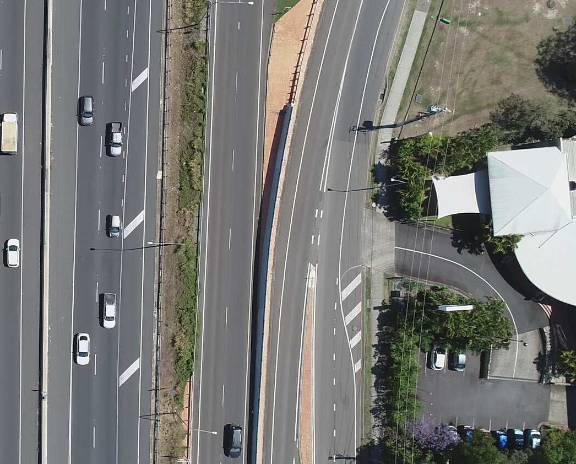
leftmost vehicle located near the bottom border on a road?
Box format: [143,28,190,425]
[229,425,245,458]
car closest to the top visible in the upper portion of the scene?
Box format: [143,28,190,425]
[82,94,96,125]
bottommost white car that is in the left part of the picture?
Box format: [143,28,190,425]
[76,333,92,365]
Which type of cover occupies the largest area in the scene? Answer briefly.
paved ground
